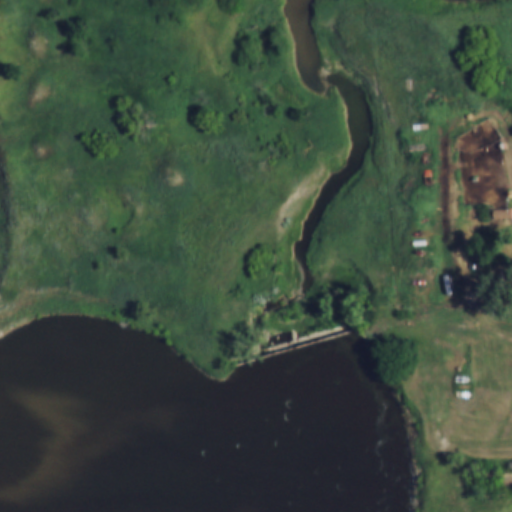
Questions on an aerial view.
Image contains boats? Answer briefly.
No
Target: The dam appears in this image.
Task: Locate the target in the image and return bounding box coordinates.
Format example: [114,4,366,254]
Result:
[262,325,352,356]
